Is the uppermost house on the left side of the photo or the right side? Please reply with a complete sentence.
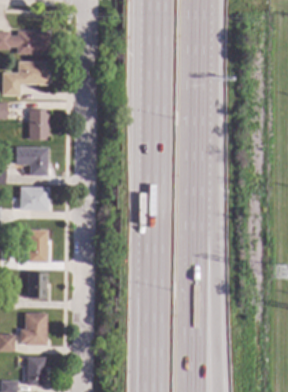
You can find the uppermost house on the left side of the picture.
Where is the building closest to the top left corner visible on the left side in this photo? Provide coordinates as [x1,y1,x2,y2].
[0,32,51,56]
